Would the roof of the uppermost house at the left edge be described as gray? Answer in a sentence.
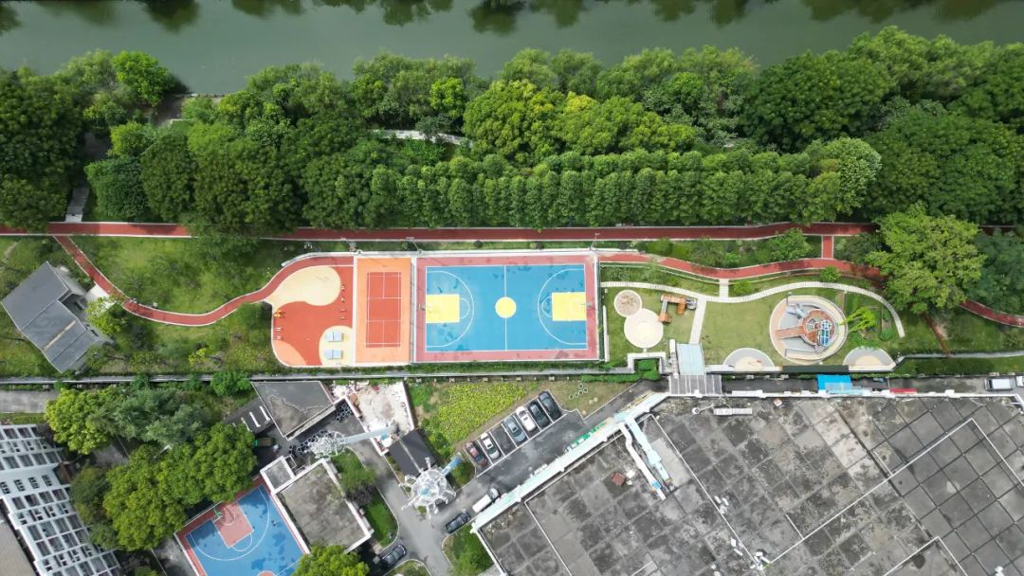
Yes, the roof of the uppermost house at the left edge is gray.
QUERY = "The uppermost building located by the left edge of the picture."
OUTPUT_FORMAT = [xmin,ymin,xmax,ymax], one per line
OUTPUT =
[0,261,120,376]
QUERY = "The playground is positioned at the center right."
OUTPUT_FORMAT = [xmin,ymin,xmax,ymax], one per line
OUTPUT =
[767,292,848,366]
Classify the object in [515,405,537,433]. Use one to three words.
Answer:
car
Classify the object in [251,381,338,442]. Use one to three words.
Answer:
building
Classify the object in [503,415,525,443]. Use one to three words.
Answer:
car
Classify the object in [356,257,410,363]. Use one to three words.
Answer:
sports court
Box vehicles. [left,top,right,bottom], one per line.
[539,391,562,420]
[515,405,537,433]
[980,379,1015,390]
[479,432,500,459]
[503,415,525,443]
[444,510,473,533]
[254,436,284,447]
[469,486,500,512]
[528,400,551,428]
[464,441,486,467]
